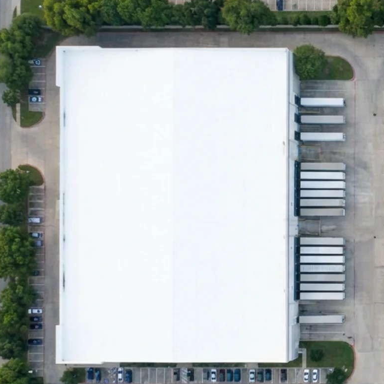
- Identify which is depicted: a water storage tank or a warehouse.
warehouse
